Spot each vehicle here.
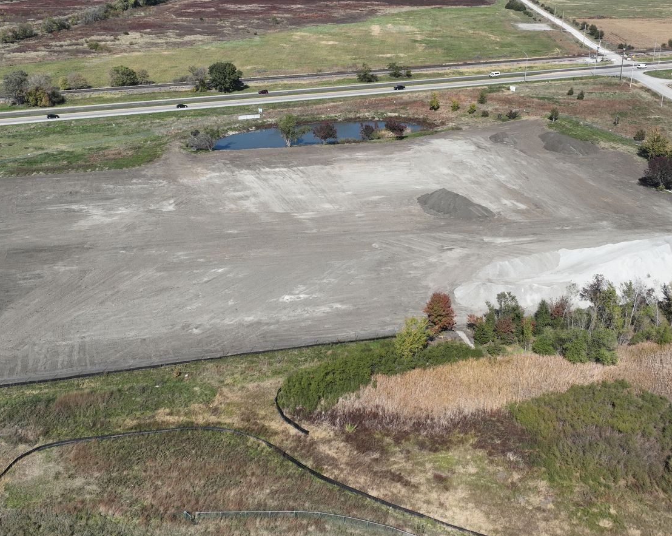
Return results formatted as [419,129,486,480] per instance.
[47,113,60,118]
[636,61,649,67]
[257,89,269,94]
[174,102,189,108]
[392,83,407,90]
[488,69,501,76]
